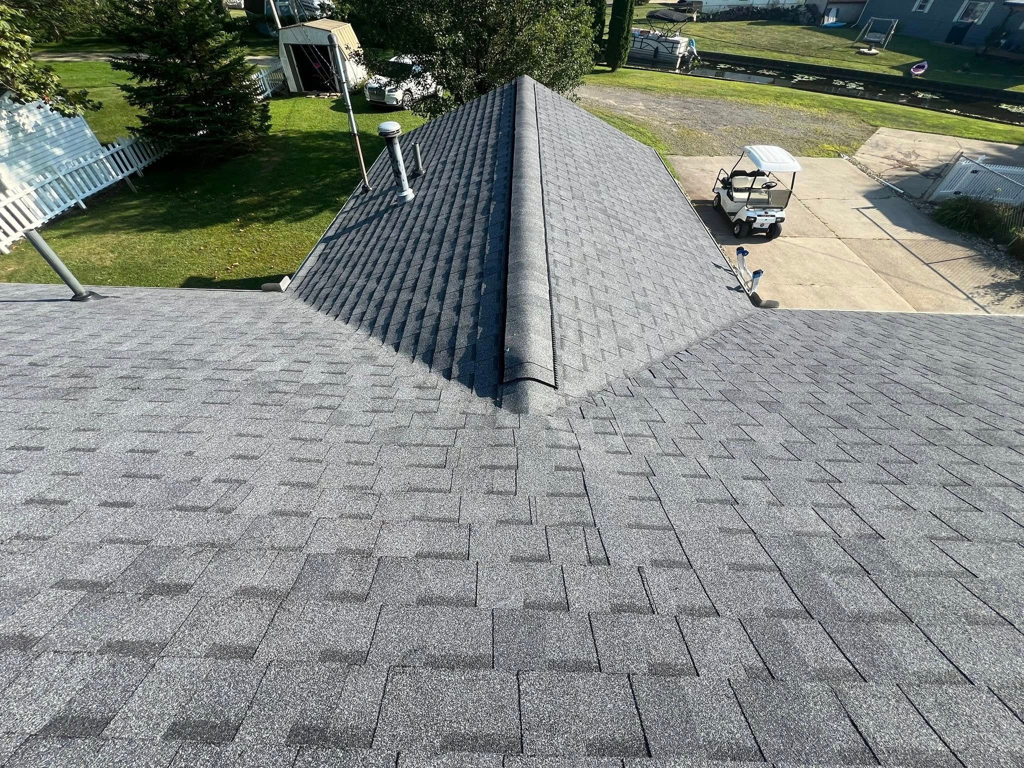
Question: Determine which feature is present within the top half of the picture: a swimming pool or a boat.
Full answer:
The one visible within the top half of the picture is a boat.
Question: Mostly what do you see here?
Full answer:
Most of the picture is covered by buildings.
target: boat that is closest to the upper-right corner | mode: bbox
[906,53,929,76]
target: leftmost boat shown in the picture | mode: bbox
[629,10,693,65]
